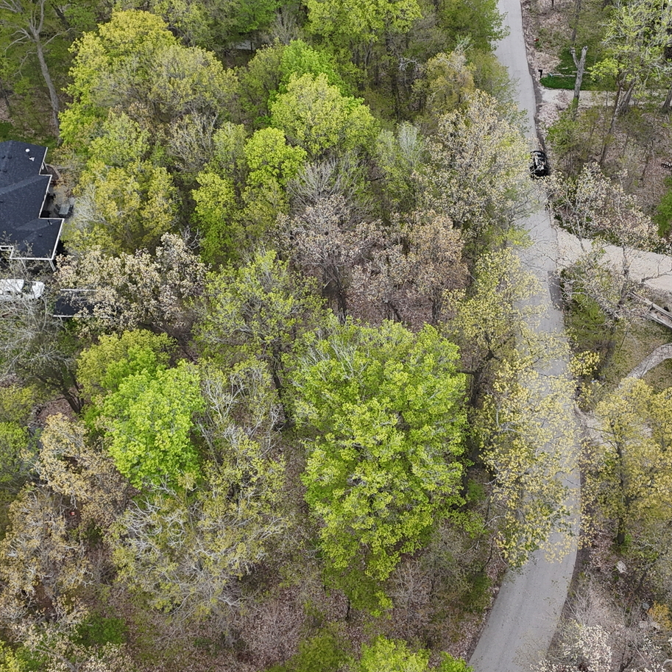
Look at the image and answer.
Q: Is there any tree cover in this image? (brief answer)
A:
Yes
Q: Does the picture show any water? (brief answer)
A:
No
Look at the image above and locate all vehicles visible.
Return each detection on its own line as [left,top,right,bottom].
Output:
[0,275,44,298]
[532,144,551,174]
